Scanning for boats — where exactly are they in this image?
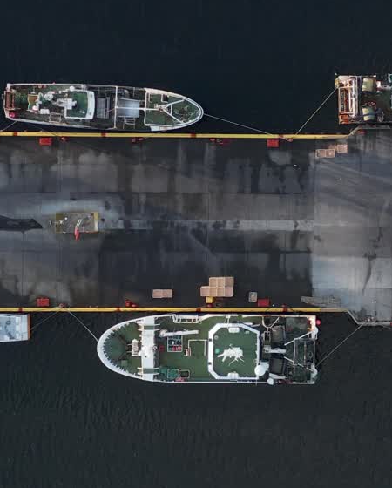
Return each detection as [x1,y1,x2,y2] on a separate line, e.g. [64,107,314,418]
[97,312,318,385]
[0,313,35,342]
[338,73,392,125]
[4,83,209,131]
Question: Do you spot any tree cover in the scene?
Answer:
No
